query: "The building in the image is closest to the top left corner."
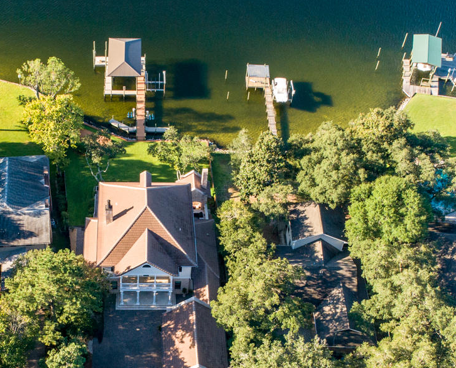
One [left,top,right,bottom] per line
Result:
[92,29,169,141]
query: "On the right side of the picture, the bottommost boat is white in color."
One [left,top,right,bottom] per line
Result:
[269,71,288,103]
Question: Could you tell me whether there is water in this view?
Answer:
Yes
